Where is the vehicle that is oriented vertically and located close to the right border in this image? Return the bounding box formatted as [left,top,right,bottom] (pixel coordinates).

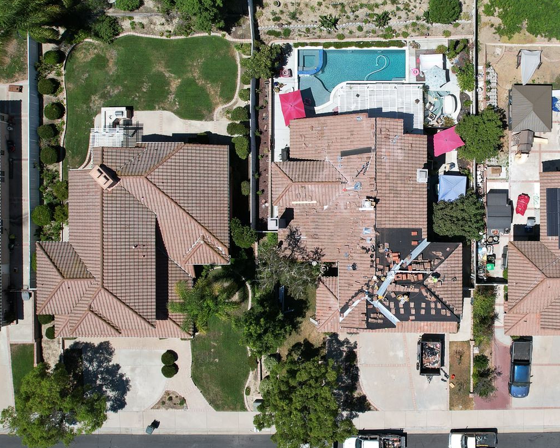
[509,338,537,401]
